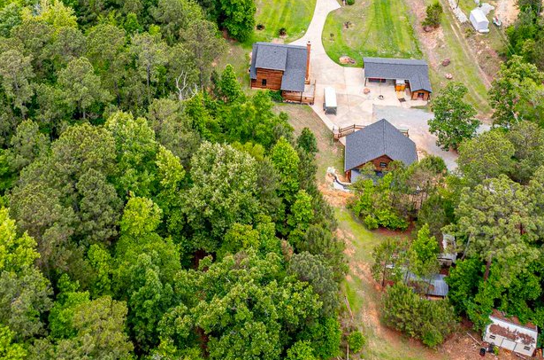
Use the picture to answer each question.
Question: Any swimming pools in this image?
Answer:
No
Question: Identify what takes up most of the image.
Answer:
trees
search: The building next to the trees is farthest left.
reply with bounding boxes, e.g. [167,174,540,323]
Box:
[249,40,314,103]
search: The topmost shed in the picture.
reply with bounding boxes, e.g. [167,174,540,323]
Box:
[464,10,494,32]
